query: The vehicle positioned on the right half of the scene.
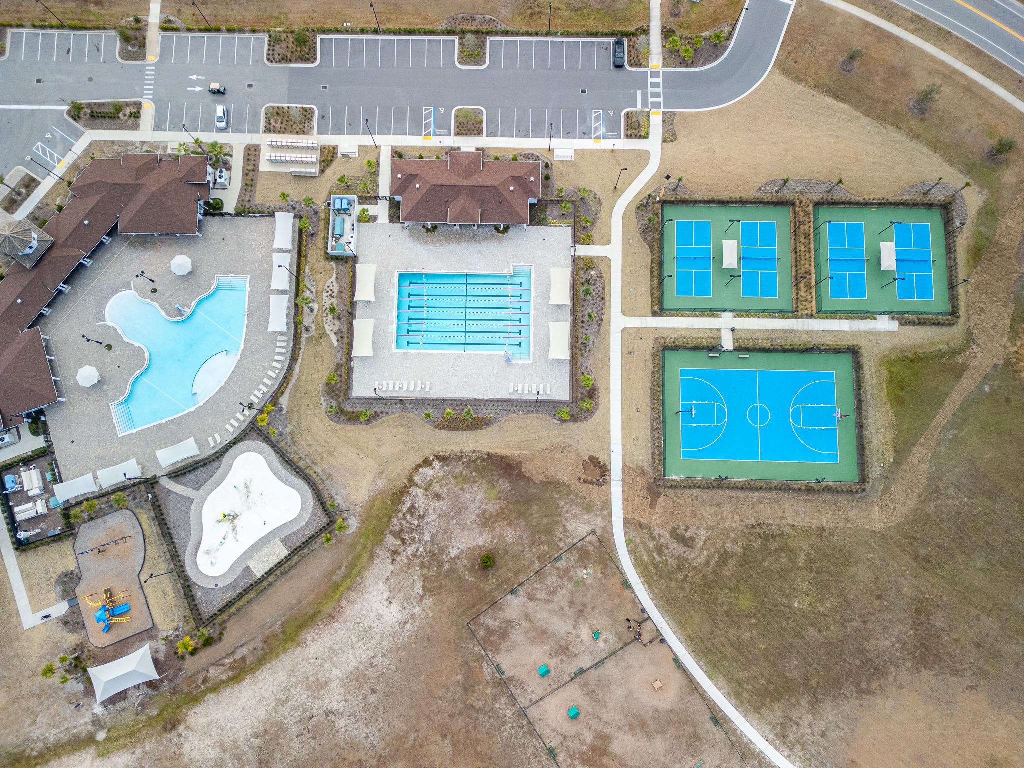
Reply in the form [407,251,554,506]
[614,38,627,66]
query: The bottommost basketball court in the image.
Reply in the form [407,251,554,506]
[663,351,859,482]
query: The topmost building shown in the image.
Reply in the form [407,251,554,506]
[390,151,542,230]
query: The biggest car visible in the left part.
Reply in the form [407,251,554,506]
[214,104,227,129]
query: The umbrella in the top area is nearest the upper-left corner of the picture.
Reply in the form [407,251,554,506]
[172,256,195,277]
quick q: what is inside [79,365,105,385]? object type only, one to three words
umbrella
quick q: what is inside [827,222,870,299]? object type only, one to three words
sports court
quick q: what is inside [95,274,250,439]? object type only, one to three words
swimming pool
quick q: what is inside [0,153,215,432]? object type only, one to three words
building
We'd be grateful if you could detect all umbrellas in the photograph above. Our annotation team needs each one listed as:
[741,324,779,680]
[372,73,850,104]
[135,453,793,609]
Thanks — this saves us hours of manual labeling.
[79,365,105,385]
[172,256,195,277]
